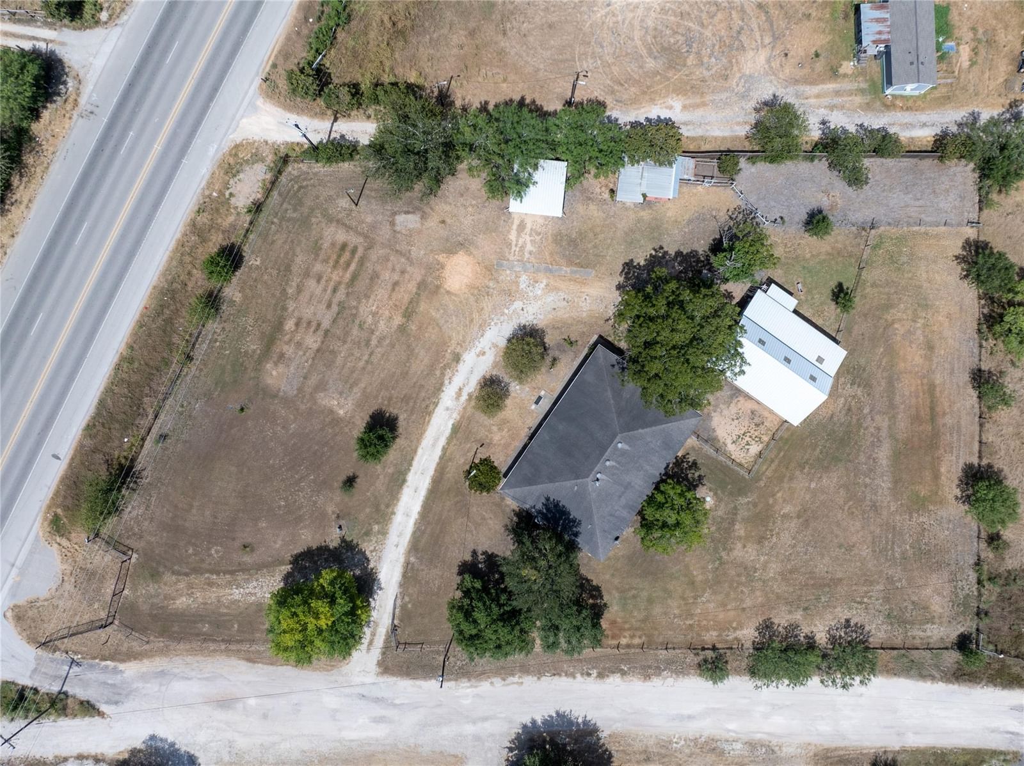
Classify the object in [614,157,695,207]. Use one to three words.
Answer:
shed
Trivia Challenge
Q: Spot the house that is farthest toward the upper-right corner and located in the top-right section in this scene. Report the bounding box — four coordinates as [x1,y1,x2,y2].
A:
[851,0,937,98]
